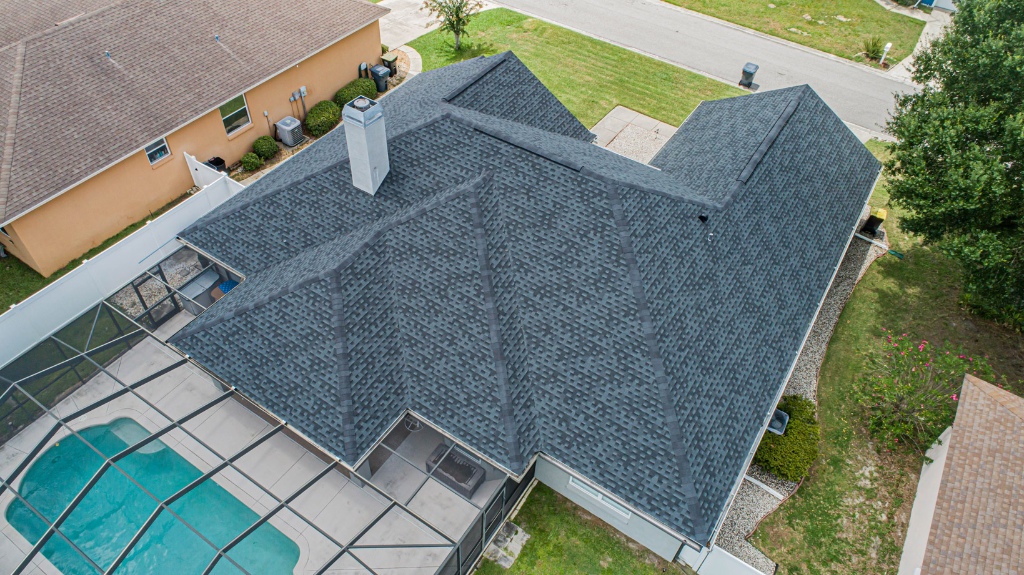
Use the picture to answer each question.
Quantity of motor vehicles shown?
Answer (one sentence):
There are no motor vehicles in this view.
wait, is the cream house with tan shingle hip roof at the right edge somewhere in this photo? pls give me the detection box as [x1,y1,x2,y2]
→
[897,373,1024,575]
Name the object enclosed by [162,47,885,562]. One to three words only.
house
